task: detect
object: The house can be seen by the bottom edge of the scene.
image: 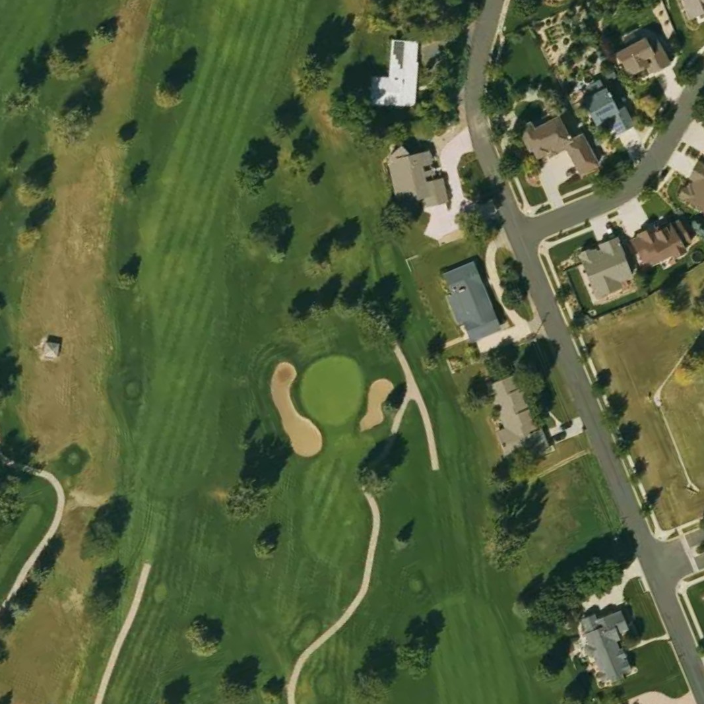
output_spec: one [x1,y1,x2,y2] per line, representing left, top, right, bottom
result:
[577,607,638,684]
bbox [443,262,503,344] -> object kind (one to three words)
house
